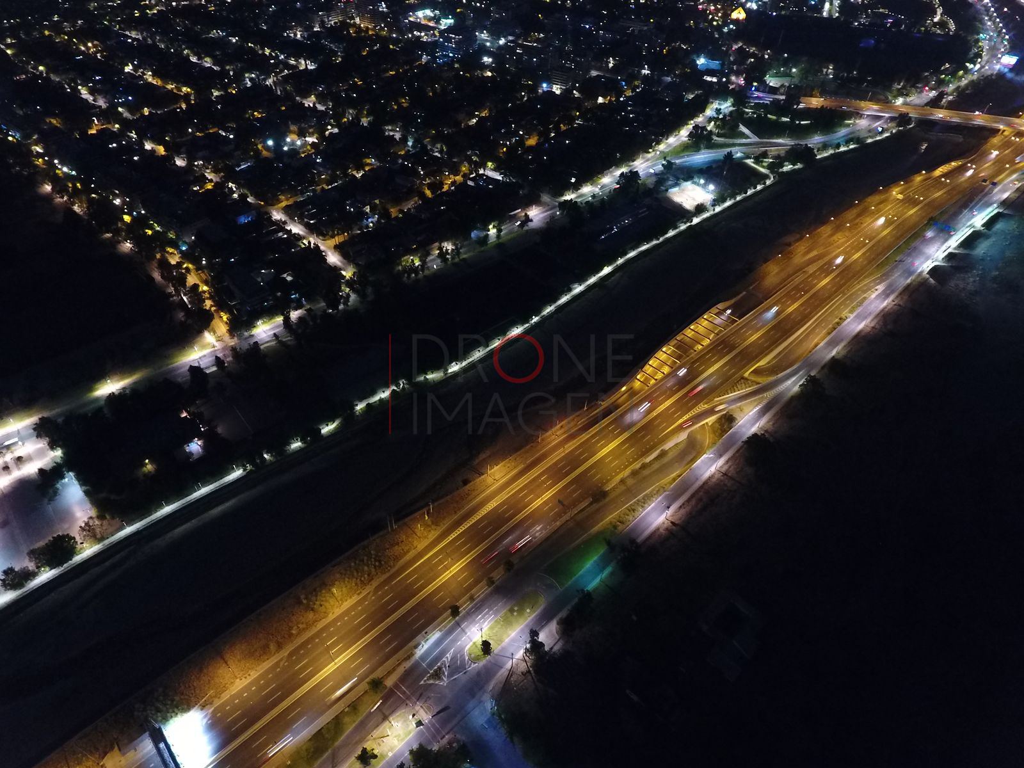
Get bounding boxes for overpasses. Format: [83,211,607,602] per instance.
[733,91,1024,138]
